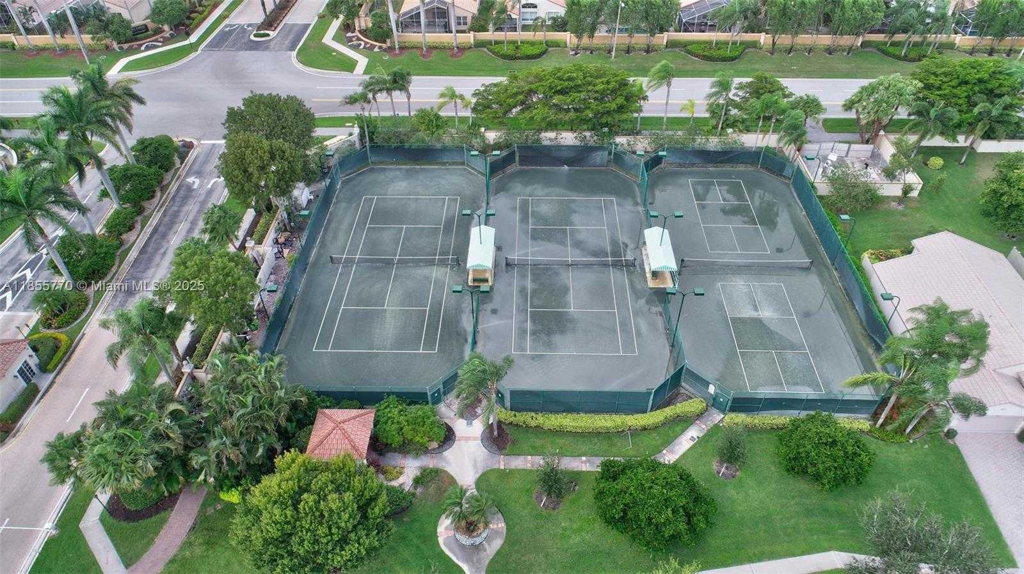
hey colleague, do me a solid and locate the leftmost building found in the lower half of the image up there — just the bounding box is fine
[0,339,37,412]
